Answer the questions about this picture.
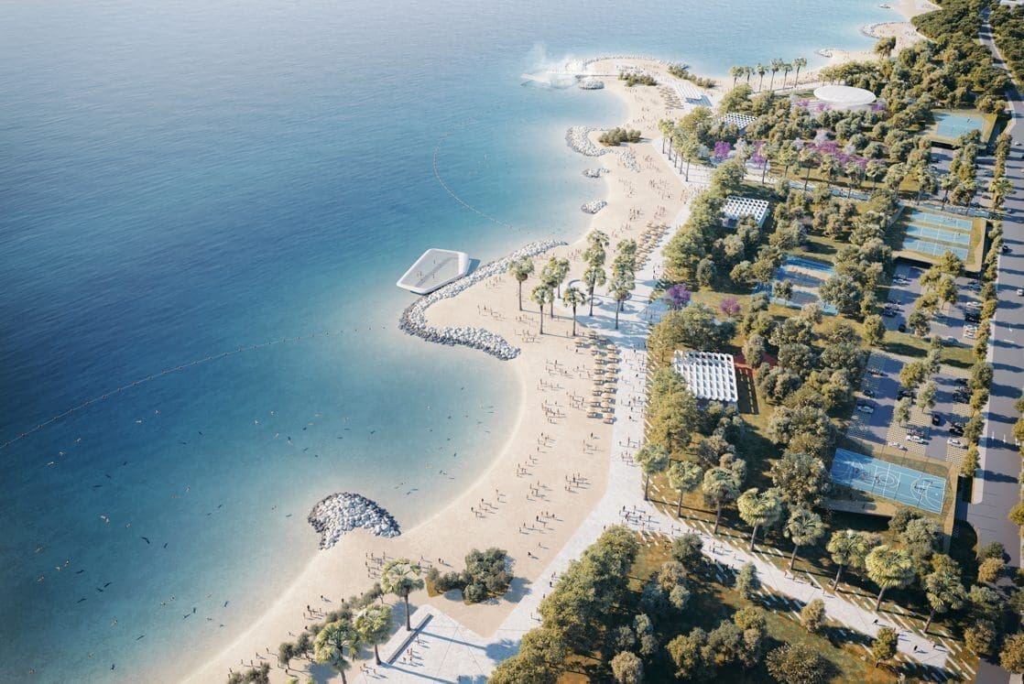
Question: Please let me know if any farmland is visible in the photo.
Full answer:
No, no farmland is visible.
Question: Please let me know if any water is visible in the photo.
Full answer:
Yes, some water is visible.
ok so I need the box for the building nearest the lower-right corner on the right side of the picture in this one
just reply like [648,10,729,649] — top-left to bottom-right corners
[673,352,738,419]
